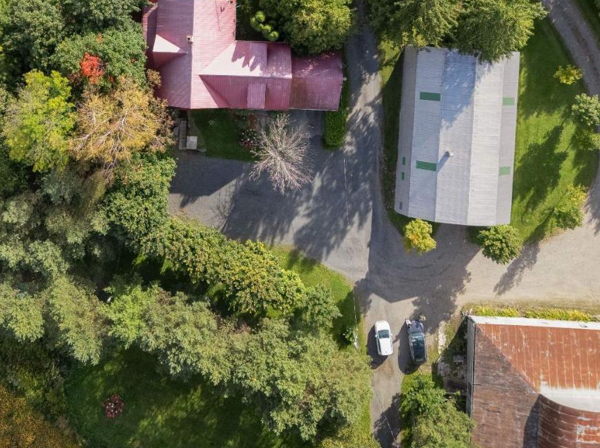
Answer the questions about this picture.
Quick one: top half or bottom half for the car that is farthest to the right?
bottom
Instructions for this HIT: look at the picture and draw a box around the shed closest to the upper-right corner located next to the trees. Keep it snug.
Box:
[393,49,522,226]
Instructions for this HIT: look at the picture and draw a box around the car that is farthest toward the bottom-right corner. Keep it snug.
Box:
[406,321,427,362]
